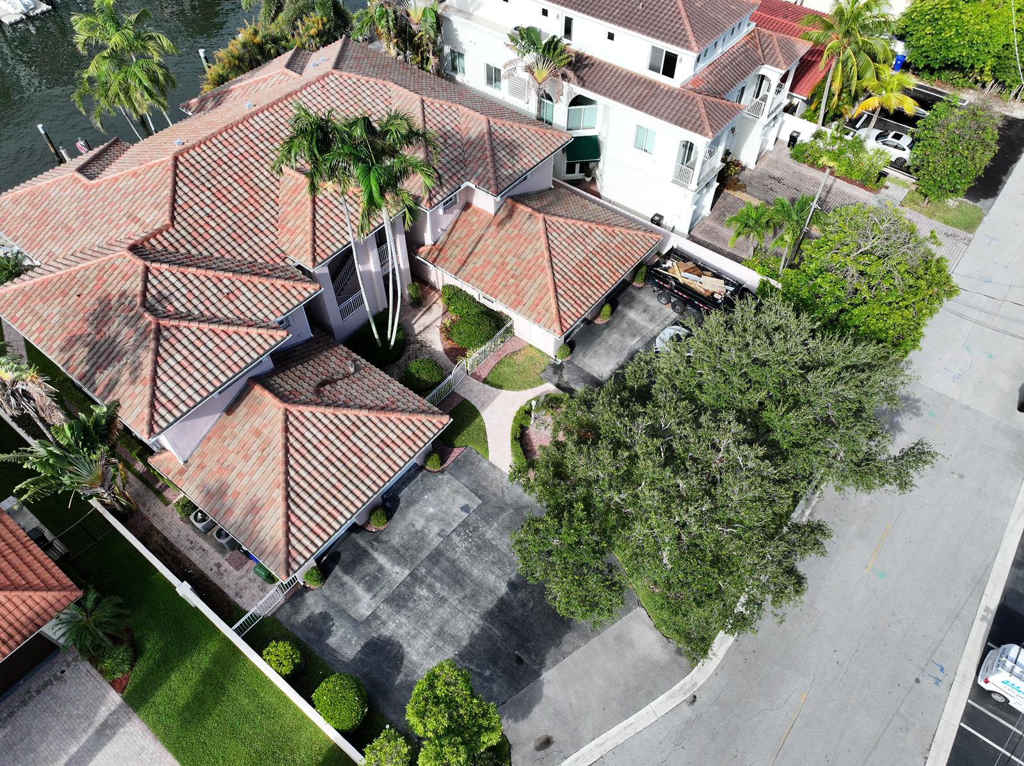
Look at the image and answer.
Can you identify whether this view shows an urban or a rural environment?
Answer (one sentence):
The area shown here is urban.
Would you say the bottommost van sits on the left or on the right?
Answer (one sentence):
You can find the bottommost van on the right side of the picture.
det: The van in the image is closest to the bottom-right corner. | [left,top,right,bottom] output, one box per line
[972,643,1024,718]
